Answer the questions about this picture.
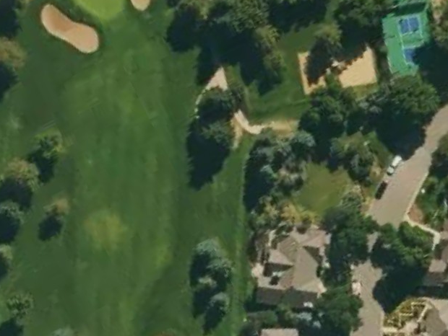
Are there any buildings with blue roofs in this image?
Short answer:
No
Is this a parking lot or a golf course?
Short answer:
golf course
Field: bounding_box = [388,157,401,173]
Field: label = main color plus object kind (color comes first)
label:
white vehicle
